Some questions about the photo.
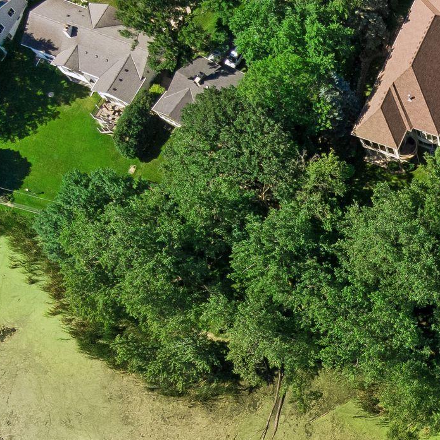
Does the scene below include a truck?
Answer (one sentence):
No, no truck can be seen from above.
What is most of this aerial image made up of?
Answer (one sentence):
The scene is dominated by trees.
